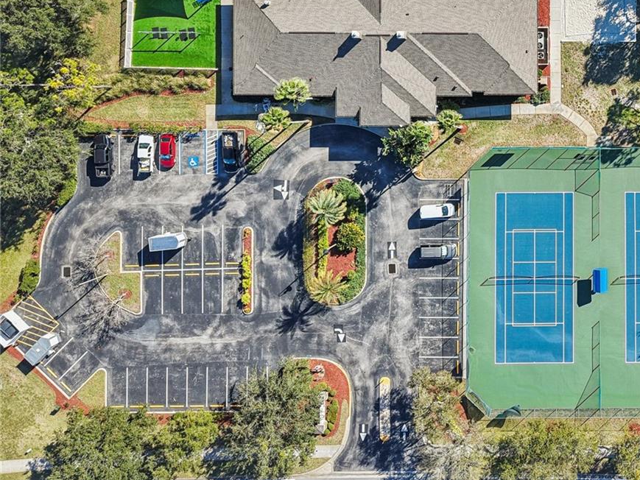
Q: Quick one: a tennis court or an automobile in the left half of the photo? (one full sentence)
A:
It is an automobile that can be seen in the left half of the photo.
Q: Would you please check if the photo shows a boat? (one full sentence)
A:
No, this view has no boat in it.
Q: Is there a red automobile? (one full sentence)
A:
Yes, the picture does show a red automobile.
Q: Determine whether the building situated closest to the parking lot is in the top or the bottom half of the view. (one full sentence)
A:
The top half of the photo is where the building situated closest to the parking lot is.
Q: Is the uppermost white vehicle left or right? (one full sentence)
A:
You can find the uppermost white vehicle on the left side of the picture.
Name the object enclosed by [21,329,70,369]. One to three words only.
trailer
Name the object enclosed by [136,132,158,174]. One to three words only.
vehicle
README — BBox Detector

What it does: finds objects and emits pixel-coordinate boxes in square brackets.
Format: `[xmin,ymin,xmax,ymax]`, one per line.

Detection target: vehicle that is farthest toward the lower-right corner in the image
[419,243,459,260]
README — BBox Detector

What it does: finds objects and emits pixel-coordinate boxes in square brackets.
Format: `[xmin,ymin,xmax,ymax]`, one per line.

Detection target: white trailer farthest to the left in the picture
[0,311,36,348]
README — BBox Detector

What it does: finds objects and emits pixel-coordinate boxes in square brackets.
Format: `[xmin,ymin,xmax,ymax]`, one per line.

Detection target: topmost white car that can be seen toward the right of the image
[420,203,457,220]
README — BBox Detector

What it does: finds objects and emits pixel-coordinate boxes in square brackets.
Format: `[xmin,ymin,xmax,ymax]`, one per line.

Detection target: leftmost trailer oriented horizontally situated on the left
[146,230,197,254]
